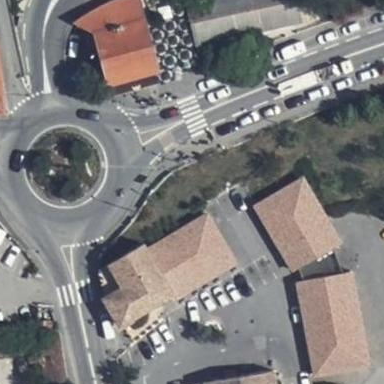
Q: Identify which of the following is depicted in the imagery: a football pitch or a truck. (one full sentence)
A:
Visible in the photo is a truck.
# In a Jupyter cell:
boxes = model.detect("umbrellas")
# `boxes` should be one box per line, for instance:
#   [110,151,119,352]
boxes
[178,20,188,30]
[164,20,176,32]
[152,28,164,40]
[156,42,168,54]
[182,34,194,45]
[160,70,172,82]
[179,49,191,60]
[175,8,186,18]
[164,54,176,66]
[167,34,179,46]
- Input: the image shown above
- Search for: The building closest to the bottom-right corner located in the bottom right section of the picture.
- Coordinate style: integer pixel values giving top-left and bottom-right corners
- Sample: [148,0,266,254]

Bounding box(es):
[296,272,370,378]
